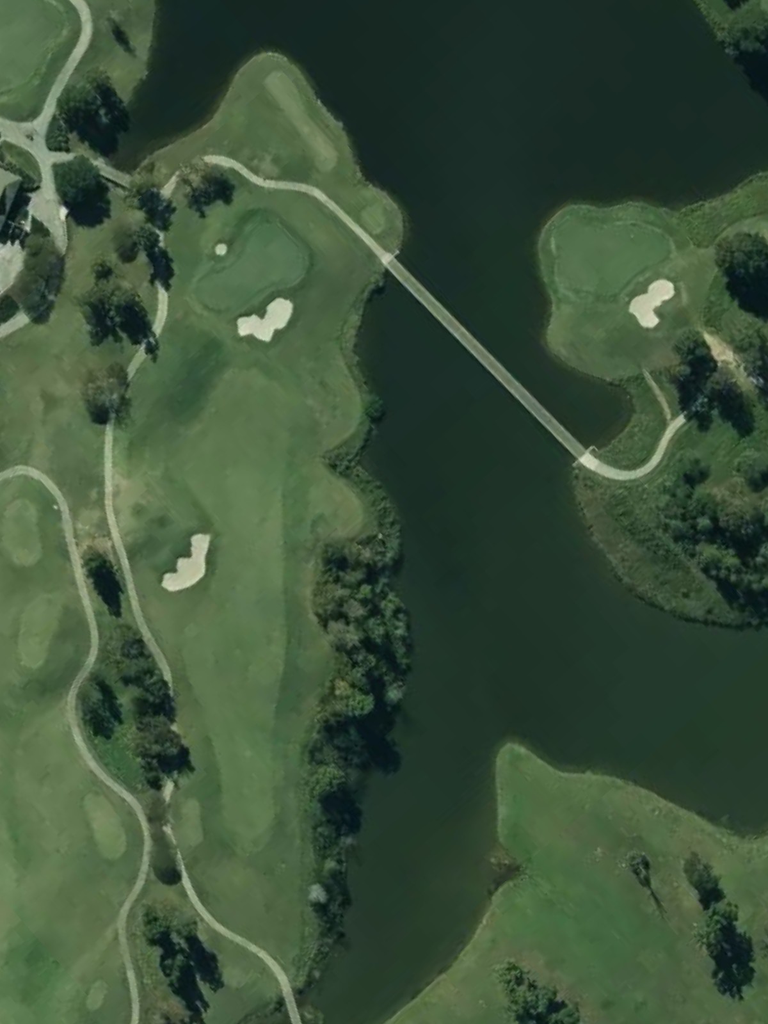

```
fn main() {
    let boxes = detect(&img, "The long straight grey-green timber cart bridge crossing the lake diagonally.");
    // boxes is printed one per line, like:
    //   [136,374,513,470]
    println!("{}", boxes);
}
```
[378,246,602,469]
